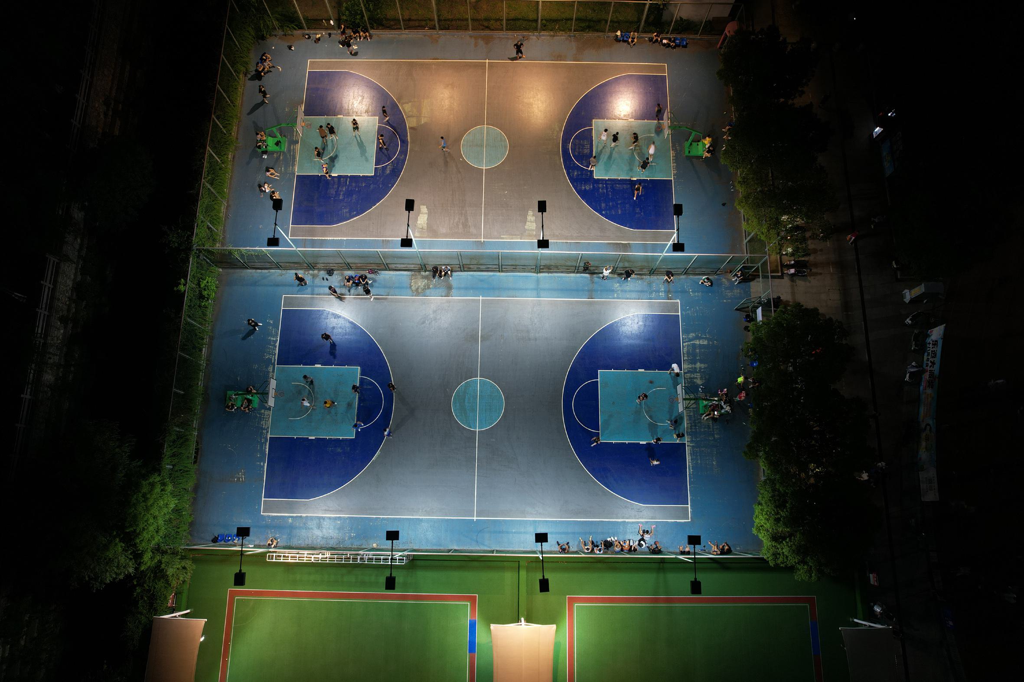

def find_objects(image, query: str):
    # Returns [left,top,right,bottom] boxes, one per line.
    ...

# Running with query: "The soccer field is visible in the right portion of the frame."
[567,595,823,682]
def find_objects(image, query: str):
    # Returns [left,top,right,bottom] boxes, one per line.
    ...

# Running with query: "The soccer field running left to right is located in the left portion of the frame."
[217,590,477,682]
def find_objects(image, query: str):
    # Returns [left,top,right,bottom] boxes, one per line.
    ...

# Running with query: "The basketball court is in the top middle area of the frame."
[217,37,747,273]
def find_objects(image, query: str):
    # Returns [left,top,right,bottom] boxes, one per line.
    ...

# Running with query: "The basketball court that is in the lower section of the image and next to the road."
[180,270,768,552]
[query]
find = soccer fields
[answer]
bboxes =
[567,595,823,682]
[217,590,477,682]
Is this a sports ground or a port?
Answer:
sports ground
